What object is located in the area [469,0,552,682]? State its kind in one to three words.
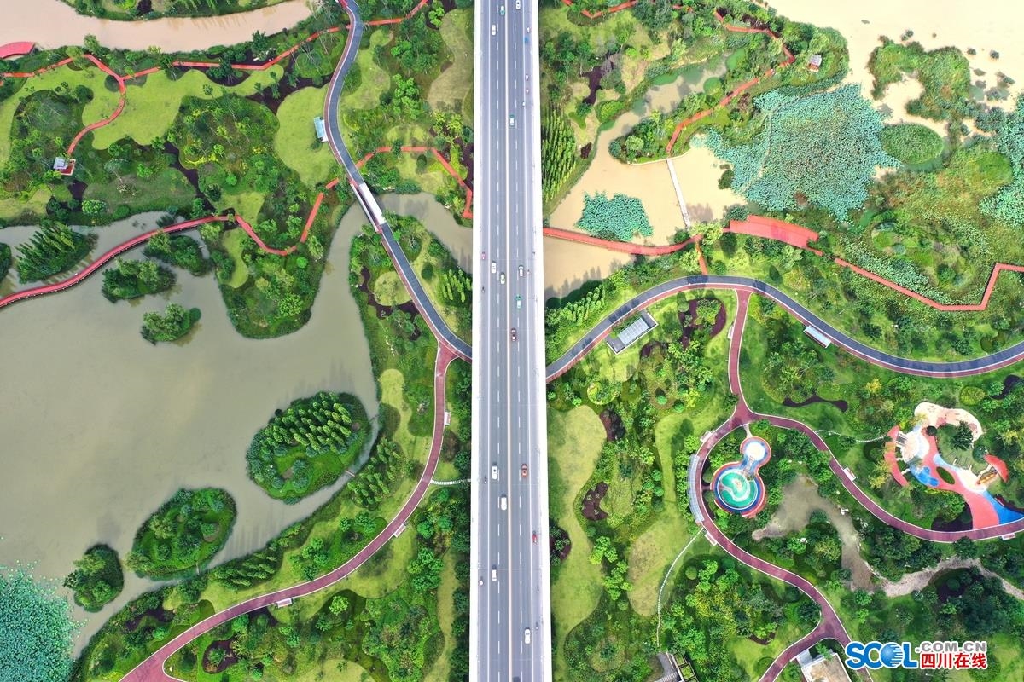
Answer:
bridge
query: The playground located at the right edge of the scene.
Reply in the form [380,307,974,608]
[902,402,1024,532]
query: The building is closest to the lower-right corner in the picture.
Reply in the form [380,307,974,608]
[795,649,853,682]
